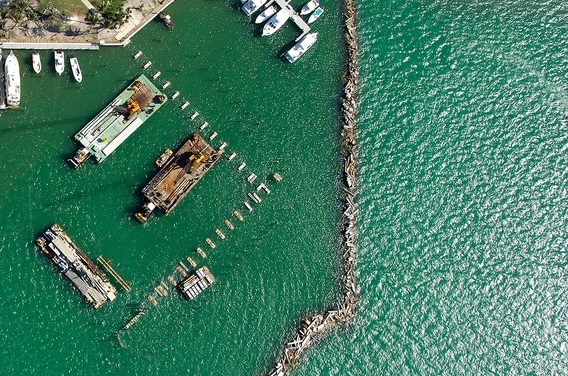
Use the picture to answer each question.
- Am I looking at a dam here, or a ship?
ship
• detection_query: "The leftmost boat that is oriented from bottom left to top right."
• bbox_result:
[66,144,92,168]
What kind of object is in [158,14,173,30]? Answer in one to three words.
boat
